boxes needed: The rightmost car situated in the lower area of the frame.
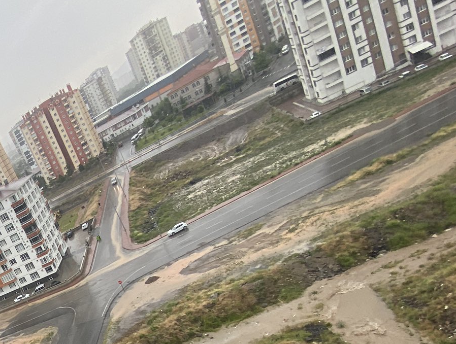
[167,221,187,234]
